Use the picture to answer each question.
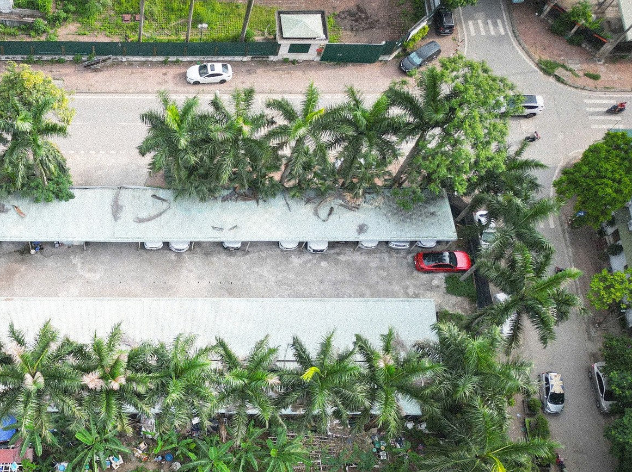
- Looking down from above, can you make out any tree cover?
Yes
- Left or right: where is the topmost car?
right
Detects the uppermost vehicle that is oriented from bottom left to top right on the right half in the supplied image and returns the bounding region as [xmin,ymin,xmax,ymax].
[399,34,444,74]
